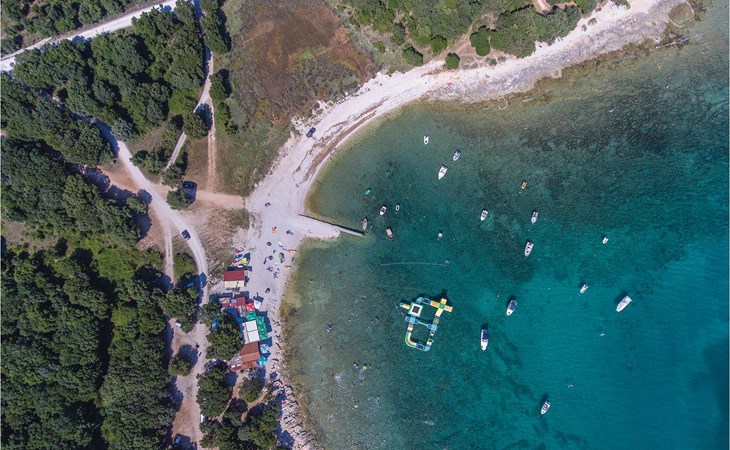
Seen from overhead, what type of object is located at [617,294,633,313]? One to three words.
boat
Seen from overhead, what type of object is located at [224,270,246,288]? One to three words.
house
